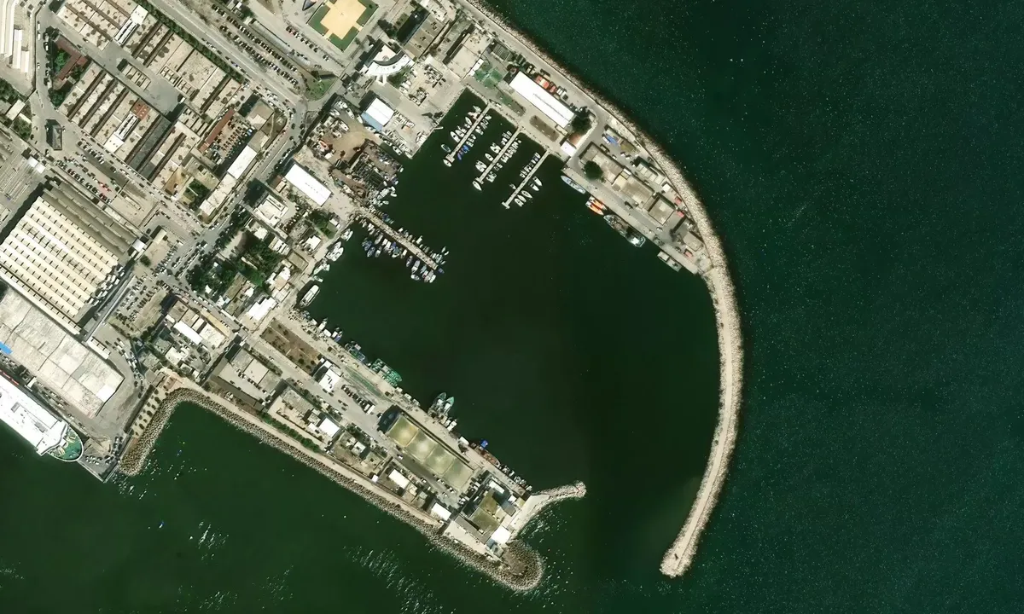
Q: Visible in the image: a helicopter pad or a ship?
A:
ship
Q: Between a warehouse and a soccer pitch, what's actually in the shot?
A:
warehouse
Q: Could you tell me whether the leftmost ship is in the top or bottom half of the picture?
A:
bottom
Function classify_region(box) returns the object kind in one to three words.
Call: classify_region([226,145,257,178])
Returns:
shed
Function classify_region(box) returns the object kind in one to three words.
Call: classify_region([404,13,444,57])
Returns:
building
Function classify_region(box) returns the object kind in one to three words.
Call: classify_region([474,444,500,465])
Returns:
ship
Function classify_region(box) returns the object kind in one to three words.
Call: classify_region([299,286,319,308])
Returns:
boat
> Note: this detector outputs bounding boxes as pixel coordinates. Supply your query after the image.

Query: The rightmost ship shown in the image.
[658,251,681,271]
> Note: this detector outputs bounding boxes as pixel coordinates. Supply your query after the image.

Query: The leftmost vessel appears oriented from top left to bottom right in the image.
[0,373,80,465]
